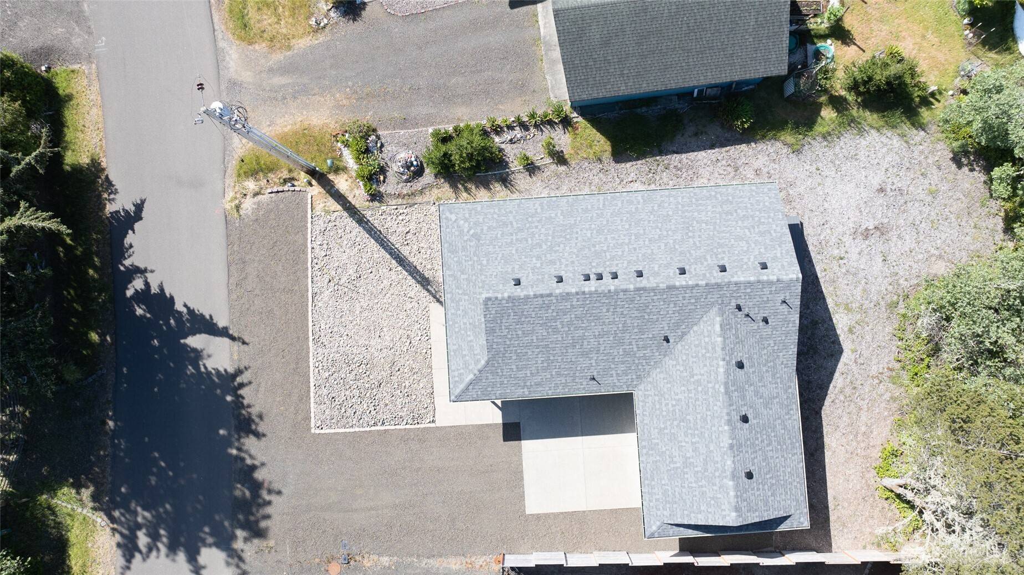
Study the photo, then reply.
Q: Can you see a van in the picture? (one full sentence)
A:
No, there's no van here.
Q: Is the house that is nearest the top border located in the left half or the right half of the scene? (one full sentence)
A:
The house that is nearest the top border sits on the right side.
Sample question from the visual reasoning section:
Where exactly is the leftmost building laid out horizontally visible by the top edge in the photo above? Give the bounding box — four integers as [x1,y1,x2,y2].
[551,0,791,111]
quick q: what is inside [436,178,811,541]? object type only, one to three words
house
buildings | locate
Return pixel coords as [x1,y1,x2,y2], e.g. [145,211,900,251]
[551,0,791,111]
[436,178,811,541]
